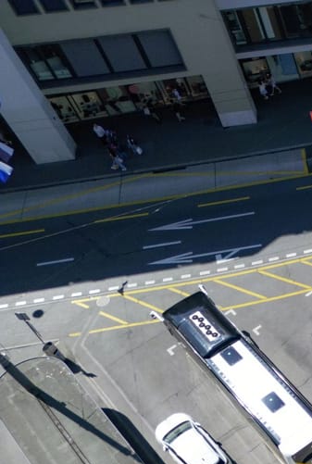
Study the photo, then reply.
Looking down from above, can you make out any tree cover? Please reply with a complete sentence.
No, no tree cover is visible.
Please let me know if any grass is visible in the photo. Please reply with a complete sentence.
No, no grass is visible.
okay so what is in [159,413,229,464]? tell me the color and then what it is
white car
